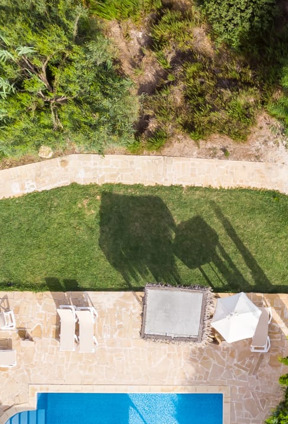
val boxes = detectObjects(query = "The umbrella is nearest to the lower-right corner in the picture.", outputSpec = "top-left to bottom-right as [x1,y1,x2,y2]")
[215,292,266,344]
